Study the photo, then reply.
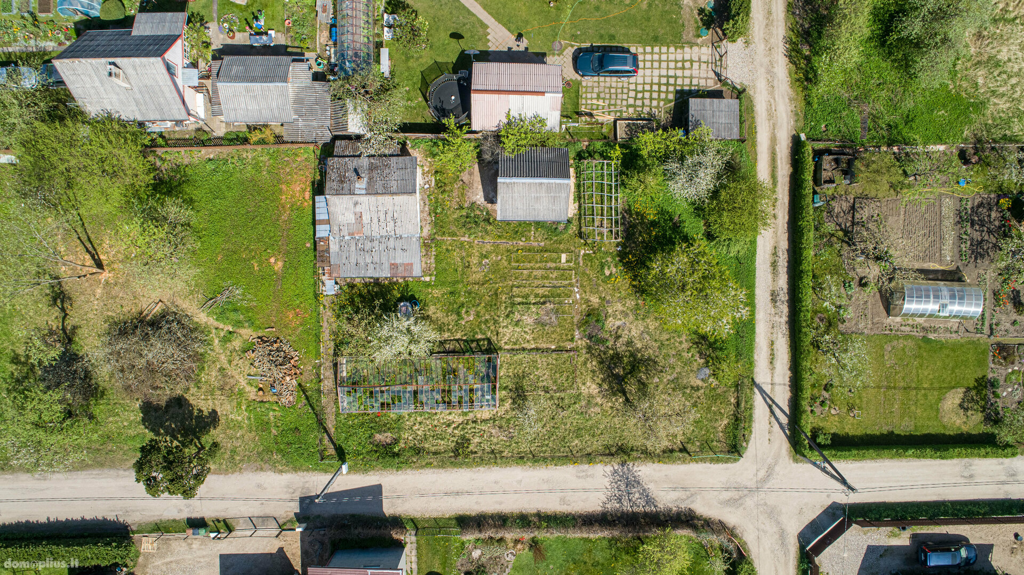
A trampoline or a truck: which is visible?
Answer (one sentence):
The image shows a trampoline.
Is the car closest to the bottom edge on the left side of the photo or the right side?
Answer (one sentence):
The car closest to the bottom edge is on the right side of the image.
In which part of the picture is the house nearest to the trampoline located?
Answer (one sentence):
You can find the house nearest to the trampoline in the top area of the picture.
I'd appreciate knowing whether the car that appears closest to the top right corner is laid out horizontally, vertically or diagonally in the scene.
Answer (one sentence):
The car that appears closest to the top right corner runs horizontally in the image.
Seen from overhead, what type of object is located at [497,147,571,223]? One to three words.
shed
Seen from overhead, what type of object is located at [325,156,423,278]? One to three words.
house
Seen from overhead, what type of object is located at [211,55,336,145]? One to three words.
shed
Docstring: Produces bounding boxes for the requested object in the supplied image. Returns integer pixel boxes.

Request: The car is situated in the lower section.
[916,541,974,573]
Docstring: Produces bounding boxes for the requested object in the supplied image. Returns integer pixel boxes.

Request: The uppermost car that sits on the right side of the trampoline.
[577,46,641,79]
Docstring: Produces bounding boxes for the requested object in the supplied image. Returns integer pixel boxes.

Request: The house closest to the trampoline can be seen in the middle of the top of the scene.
[471,61,563,136]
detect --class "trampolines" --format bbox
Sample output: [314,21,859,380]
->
[424,65,471,119]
